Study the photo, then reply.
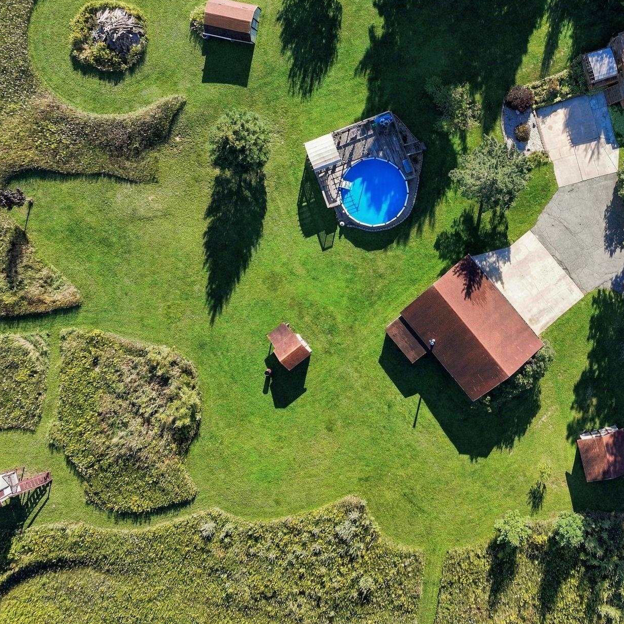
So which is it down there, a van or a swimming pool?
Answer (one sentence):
There is a swimming pool in the scene.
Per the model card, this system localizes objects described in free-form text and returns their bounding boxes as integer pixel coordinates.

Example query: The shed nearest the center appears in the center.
[269,319,315,369]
